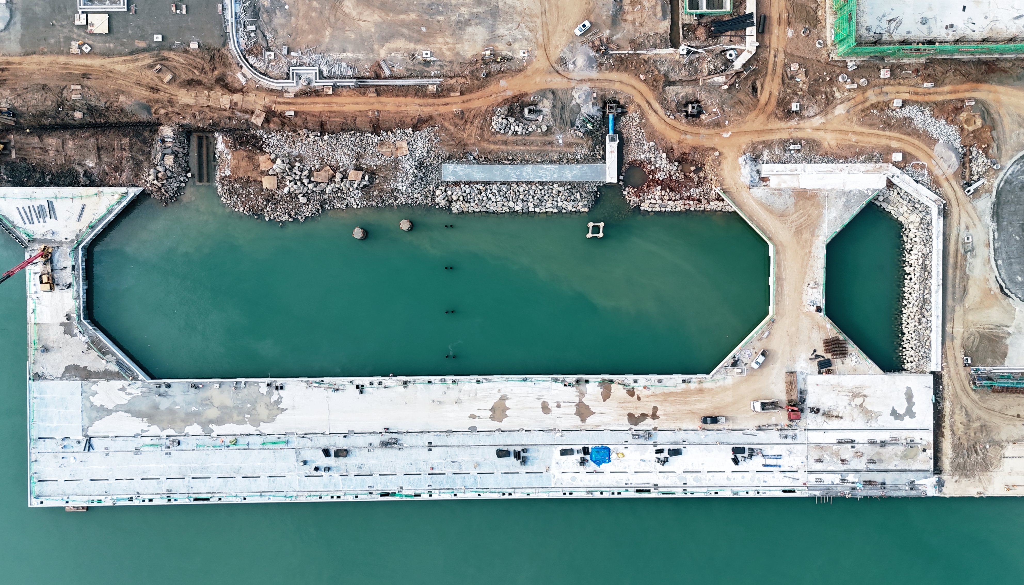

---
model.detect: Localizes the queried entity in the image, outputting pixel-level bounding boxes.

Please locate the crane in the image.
[0,244,66,292]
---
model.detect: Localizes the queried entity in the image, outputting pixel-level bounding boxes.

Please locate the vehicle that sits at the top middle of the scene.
[574,16,592,36]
